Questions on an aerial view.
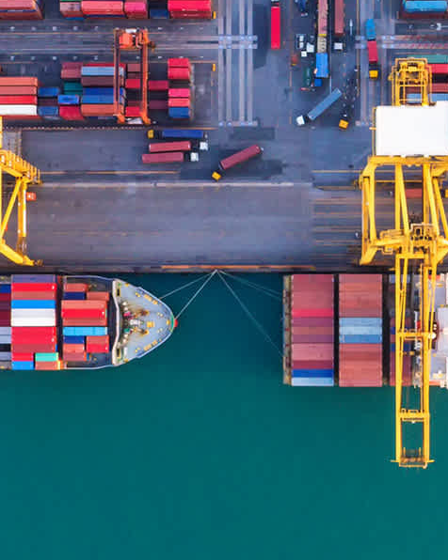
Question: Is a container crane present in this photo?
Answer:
Yes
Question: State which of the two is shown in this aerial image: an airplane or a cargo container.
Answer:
cargo container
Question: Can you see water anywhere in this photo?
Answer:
Yes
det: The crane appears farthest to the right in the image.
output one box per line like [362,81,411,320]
[349,55,448,469]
